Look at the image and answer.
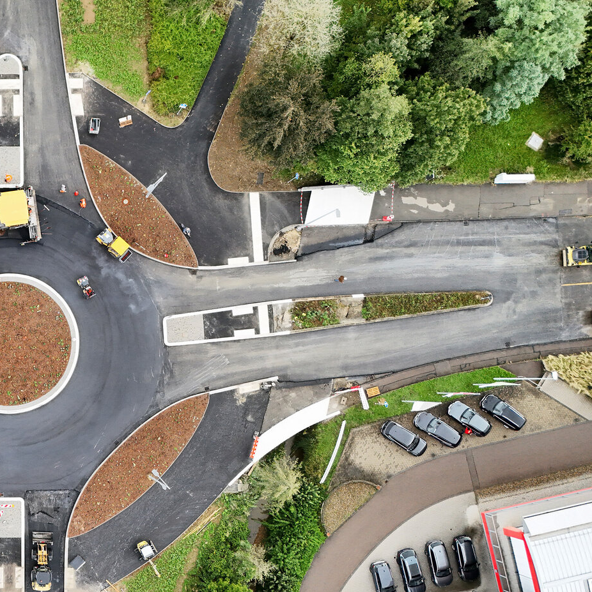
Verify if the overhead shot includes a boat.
No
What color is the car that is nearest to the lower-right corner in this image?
black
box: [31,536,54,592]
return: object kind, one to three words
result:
work vehicle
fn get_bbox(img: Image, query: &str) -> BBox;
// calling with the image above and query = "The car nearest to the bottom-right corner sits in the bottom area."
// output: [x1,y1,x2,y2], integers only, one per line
[452,532,483,581]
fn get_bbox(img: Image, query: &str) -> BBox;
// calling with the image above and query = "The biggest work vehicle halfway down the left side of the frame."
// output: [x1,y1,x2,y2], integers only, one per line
[93,225,139,267]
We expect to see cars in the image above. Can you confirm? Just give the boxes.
[368,557,399,592]
[422,537,454,587]
[379,418,425,458]
[452,532,483,581]
[442,399,496,440]
[477,392,531,434]
[394,545,427,592]
[410,412,465,452]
